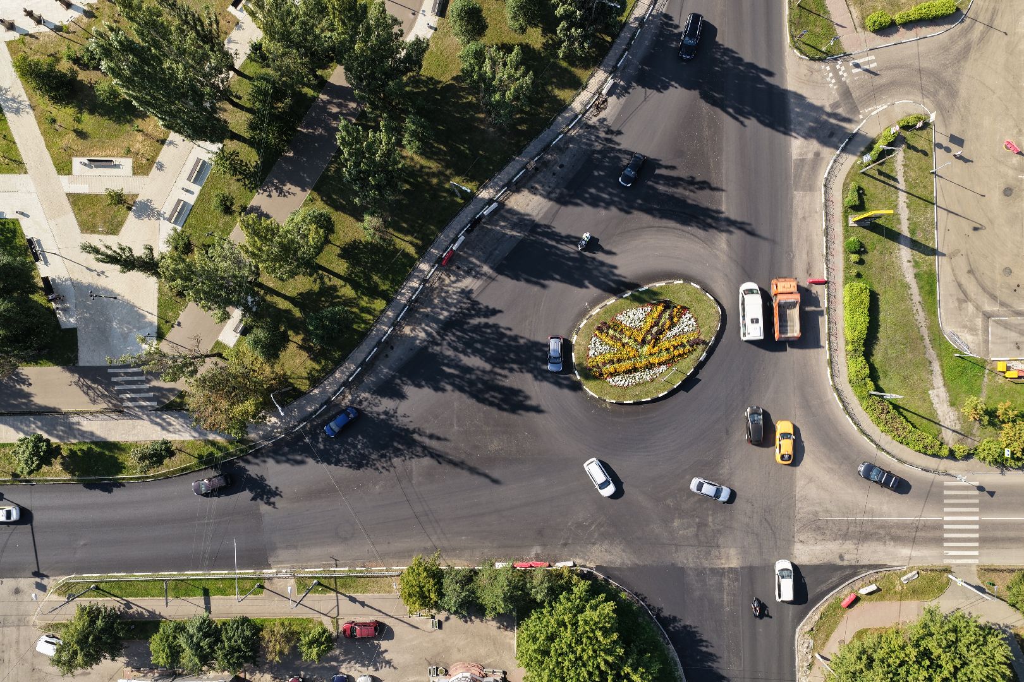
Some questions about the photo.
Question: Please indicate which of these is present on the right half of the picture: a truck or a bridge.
truck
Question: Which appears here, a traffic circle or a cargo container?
traffic circle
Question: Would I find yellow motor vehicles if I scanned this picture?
Yes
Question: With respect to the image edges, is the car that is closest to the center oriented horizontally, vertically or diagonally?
vertically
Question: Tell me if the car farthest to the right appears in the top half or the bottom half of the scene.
bottom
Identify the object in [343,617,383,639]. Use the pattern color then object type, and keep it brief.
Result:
red car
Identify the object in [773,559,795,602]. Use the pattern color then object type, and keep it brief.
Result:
white car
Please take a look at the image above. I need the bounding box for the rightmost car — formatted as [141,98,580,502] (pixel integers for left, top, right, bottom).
[855,460,902,490]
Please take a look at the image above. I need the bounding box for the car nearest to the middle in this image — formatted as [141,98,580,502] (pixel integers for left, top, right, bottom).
[545,334,565,373]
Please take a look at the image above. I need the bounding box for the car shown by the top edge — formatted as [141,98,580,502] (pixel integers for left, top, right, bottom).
[678,13,703,61]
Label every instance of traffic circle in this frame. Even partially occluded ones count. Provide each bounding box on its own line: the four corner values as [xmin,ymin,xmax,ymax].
[573,280,722,402]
